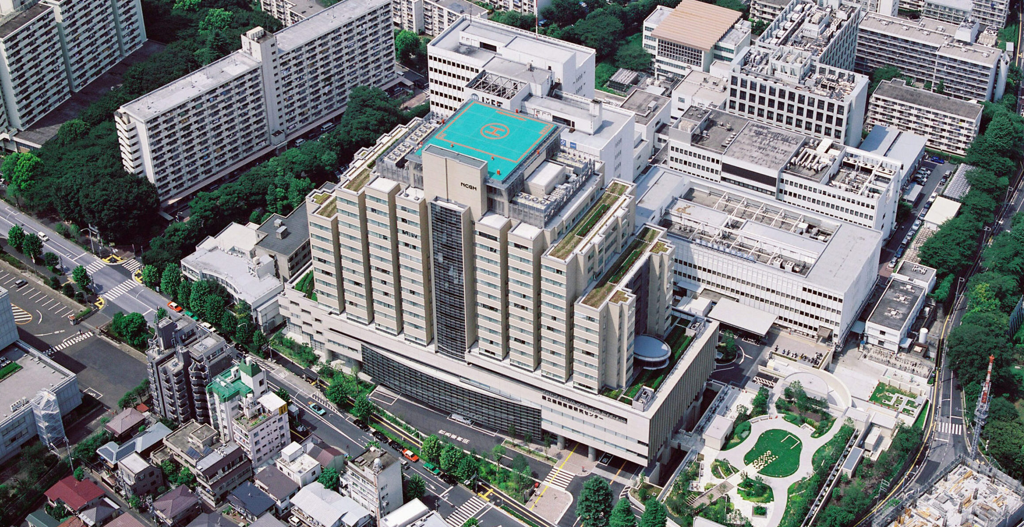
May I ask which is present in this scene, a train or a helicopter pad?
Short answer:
helicopter pad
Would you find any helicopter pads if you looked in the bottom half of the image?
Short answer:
No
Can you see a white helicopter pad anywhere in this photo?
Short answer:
No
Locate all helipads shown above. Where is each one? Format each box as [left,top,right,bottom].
[407,97,561,187]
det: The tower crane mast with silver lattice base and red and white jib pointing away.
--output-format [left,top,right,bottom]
[969,357,994,460]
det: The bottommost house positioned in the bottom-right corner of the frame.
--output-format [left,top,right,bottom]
[841,447,864,480]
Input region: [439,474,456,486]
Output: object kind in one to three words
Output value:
vehicle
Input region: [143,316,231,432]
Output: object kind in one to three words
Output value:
building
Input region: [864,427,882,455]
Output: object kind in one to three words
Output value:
house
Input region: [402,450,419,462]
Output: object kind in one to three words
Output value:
vehicle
